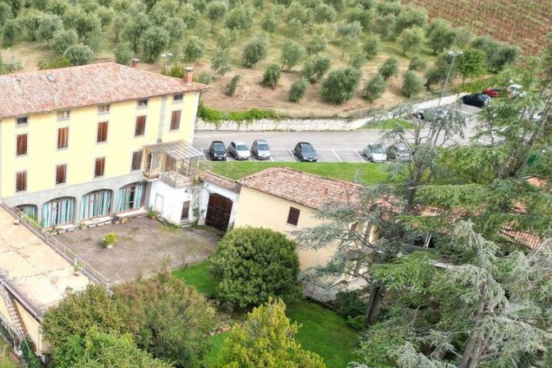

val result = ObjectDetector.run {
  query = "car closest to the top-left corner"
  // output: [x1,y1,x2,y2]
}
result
[209,137,227,157]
